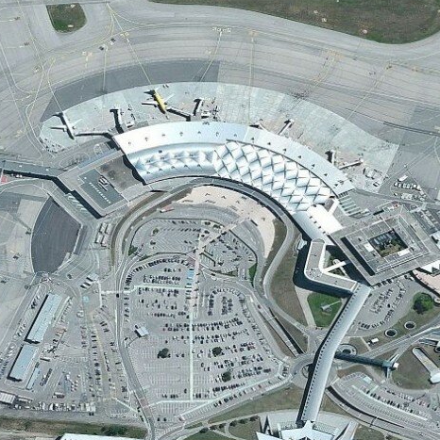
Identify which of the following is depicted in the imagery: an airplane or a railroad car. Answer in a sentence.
Of the two, only an airplane appears.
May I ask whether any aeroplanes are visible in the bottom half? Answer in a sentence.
No, the scene shows no aeroplane in the bottom half.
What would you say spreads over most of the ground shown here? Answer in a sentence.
The scene is dominated by paved ground.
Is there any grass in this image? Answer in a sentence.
Yes, there is grass in the image.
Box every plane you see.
[52,109,78,138]
[147,87,171,114]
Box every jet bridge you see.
[75,130,116,142]
[113,104,125,134]
[329,147,335,165]
[166,105,193,122]
[192,96,202,121]
[254,121,268,132]
[277,116,296,136]
[338,156,366,171]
